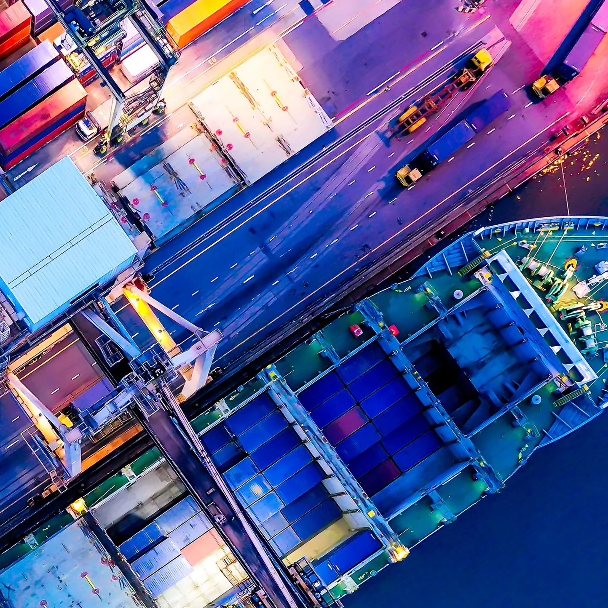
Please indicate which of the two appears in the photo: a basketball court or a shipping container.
shipping container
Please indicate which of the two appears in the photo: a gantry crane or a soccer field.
gantry crane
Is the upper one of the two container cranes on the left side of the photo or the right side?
left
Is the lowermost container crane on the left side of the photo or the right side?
left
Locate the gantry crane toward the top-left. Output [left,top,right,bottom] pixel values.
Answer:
[37,0,184,156]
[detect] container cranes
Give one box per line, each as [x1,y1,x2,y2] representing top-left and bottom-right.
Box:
[37,0,184,156]
[0,155,349,608]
